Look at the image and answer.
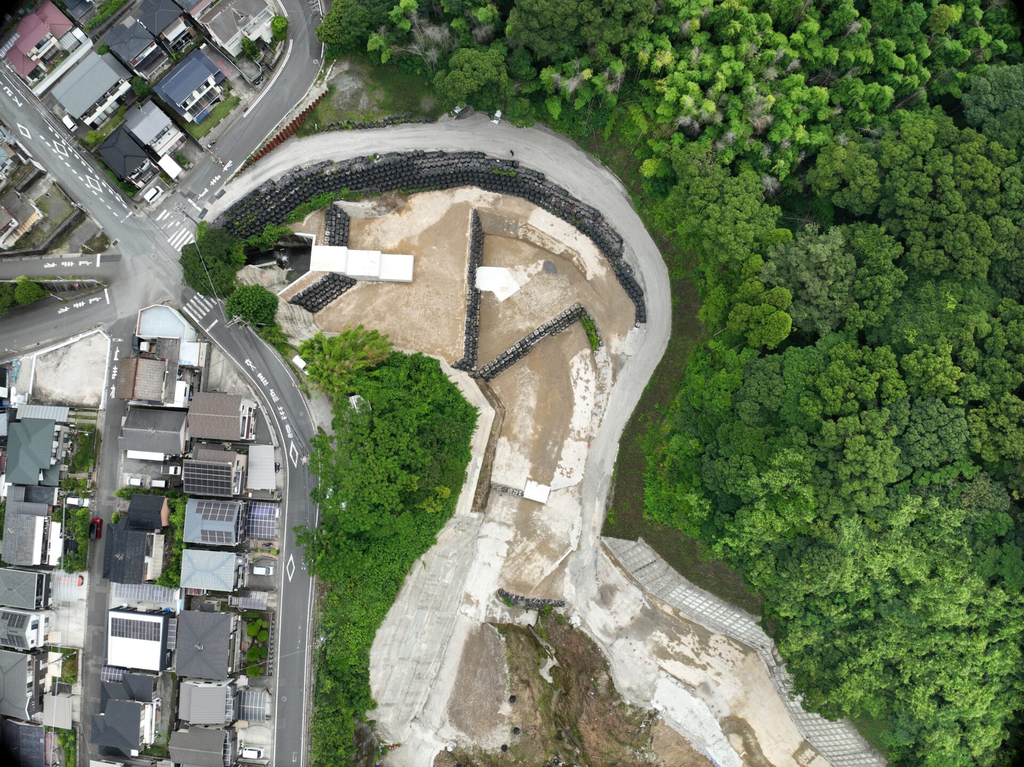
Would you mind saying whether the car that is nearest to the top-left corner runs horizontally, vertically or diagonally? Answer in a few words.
diagonally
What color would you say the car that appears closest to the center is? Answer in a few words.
white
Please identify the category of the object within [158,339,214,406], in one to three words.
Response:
house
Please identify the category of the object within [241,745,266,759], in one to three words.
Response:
car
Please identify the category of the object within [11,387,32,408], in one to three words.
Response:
shed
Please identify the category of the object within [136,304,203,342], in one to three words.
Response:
building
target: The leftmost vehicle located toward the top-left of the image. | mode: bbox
[57,111,81,134]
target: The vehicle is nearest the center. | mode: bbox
[288,354,309,374]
